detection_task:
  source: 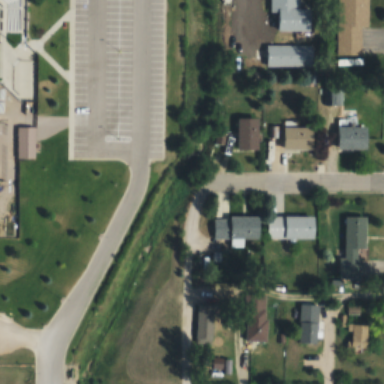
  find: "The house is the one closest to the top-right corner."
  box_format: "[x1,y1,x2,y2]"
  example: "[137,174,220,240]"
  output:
[338,0,370,56]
